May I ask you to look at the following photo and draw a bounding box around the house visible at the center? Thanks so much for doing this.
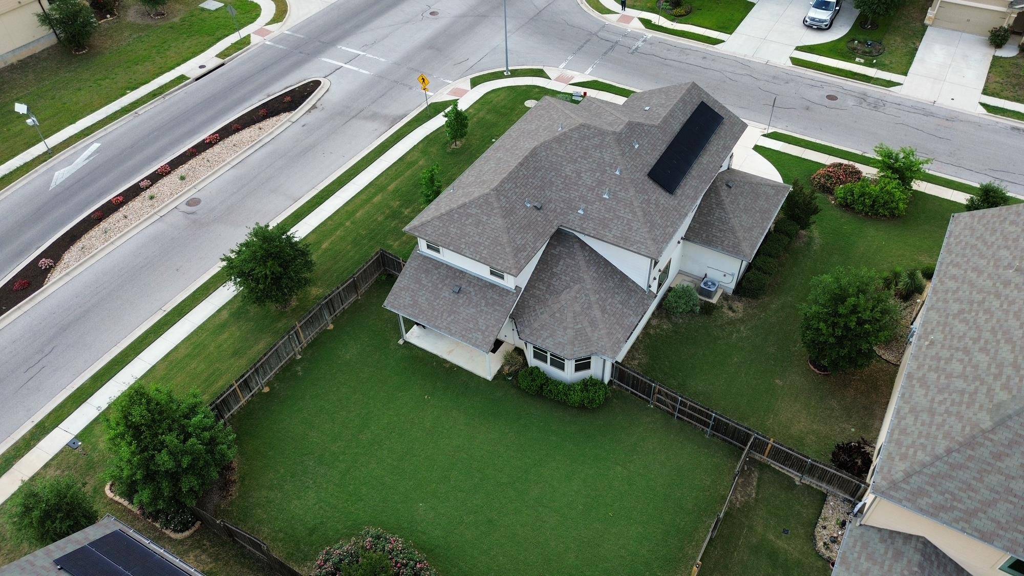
[380,80,793,382]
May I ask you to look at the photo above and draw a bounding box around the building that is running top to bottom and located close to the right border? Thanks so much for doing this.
[826,208,1024,576]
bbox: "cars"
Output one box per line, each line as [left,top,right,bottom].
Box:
[804,0,844,29]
